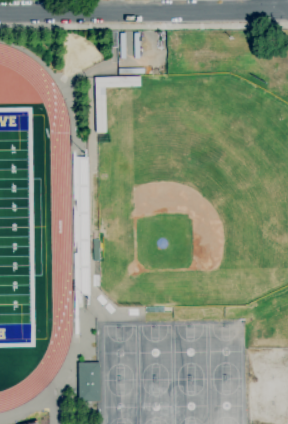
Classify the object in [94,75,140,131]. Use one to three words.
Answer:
building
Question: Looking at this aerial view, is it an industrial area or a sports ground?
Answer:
sports ground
